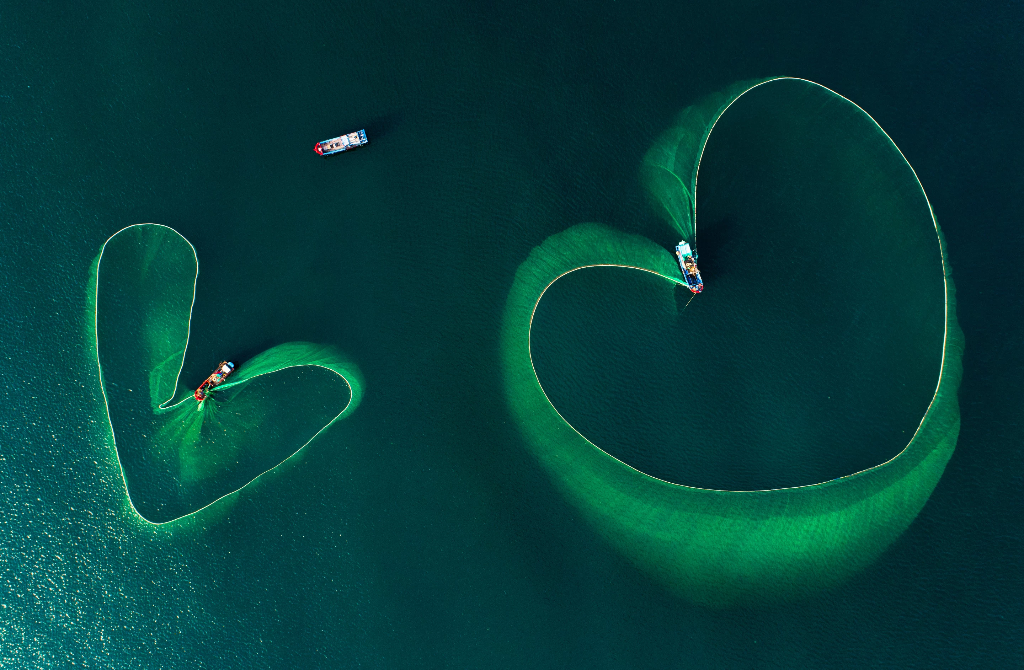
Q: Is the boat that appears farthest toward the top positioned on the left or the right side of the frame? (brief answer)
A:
left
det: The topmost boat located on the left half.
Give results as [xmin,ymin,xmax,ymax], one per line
[312,130,368,154]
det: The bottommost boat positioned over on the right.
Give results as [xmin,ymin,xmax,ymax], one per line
[676,243,703,308]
